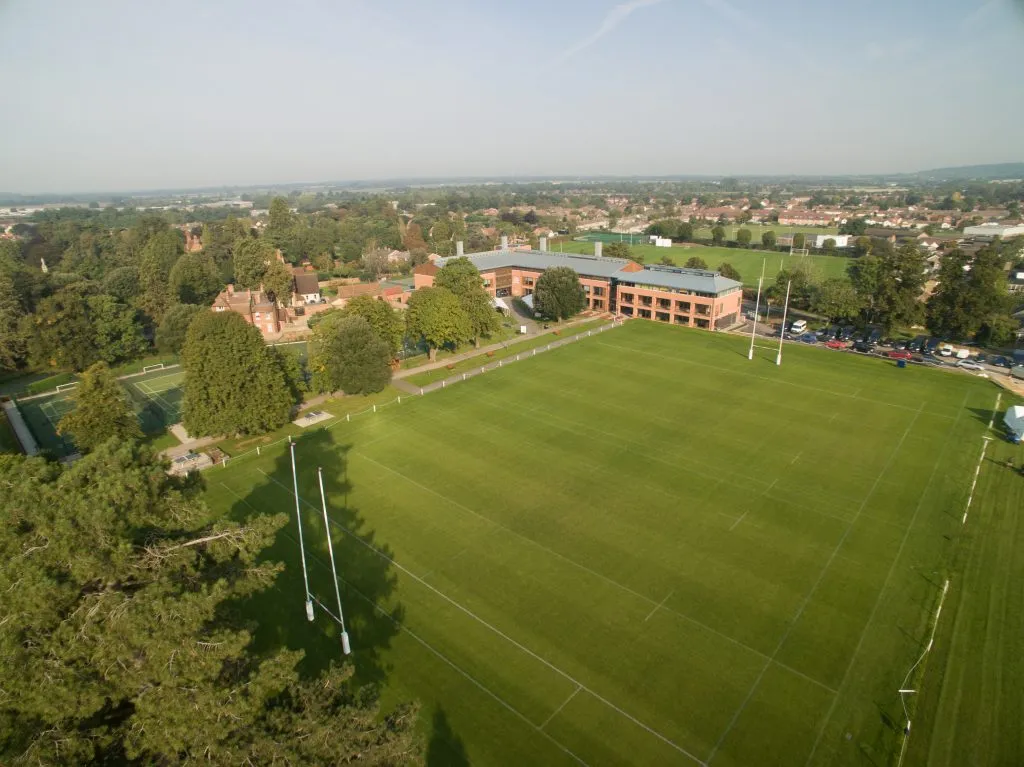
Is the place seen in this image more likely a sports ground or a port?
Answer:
sports ground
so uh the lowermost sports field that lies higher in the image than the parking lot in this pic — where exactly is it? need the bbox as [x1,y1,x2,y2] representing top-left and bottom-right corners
[561,241,866,301]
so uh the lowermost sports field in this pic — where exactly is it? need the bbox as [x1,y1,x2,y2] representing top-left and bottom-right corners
[183,319,998,767]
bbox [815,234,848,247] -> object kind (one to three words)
building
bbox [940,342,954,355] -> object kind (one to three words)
vehicle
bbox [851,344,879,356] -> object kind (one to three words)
vehicle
